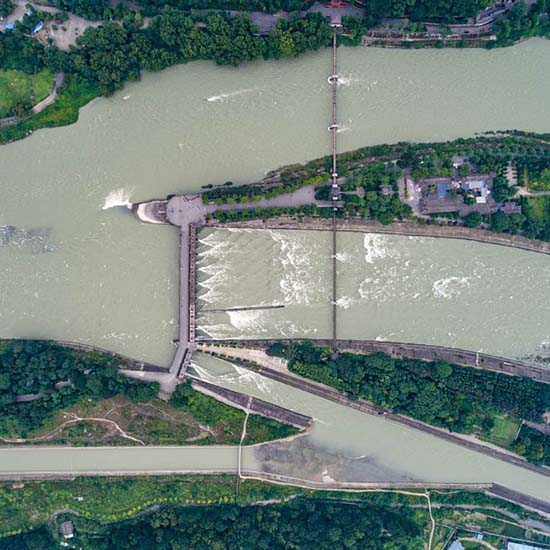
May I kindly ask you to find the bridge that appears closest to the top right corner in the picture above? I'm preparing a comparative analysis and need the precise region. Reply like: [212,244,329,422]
[327,9,343,360]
